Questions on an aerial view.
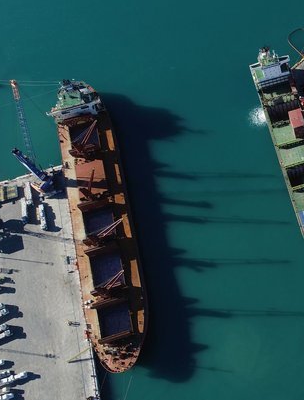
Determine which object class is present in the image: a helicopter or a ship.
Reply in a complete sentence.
The one in the frame is a ship.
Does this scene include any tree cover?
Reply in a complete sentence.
No, no tree cover is visible.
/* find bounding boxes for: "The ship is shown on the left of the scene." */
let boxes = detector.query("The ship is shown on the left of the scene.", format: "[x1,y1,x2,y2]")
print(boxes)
[48,74,143,375]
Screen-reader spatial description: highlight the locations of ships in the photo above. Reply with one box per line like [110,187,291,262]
[254,55,304,240]
[48,74,143,375]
